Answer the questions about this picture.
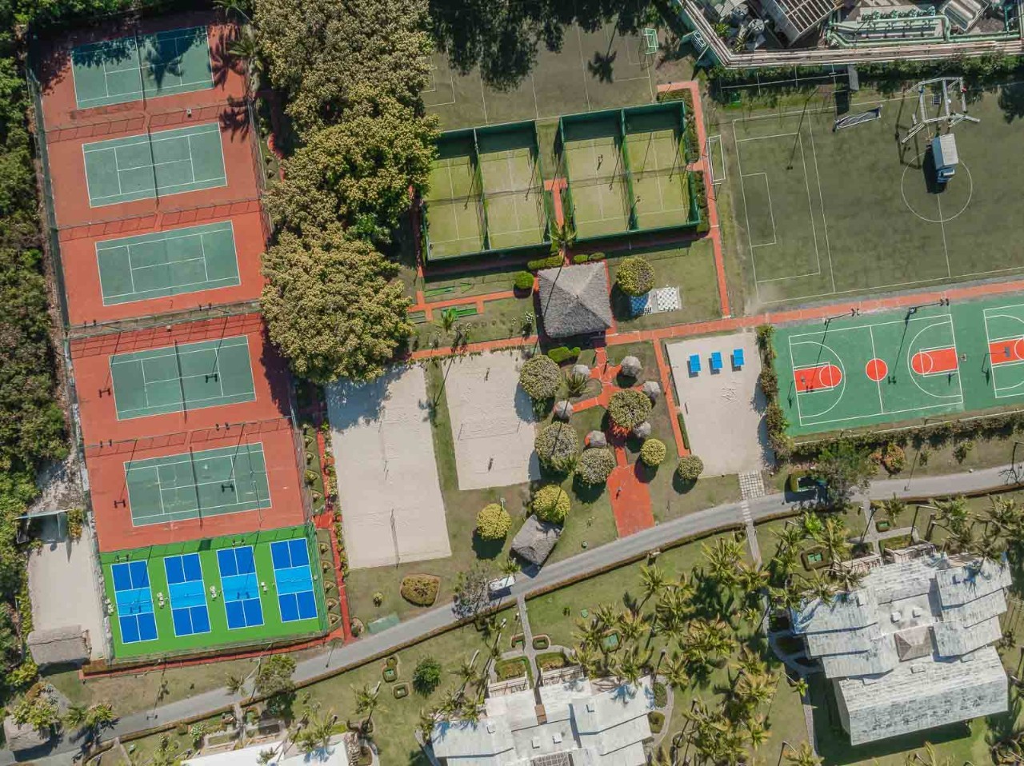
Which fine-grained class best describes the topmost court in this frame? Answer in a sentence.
The topmost court is a tennis court.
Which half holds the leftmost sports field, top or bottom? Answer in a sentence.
Seen from above, the leftmost sports field lies in the top half of the view.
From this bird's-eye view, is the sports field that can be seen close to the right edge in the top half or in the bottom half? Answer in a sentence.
It is in the top half that the sports field that can be seen close to the right edge appears.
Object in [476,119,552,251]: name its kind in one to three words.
sports court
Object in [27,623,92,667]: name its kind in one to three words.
shed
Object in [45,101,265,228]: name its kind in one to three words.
tennis court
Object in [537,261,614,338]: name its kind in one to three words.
building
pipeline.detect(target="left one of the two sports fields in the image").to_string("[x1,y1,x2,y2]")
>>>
[404,0,694,137]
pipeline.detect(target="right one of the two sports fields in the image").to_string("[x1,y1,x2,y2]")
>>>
[720,68,1024,314]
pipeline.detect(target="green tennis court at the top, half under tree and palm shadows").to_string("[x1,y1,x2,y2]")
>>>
[30,12,253,131]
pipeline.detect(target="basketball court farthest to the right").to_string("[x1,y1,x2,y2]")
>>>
[967,296,1024,410]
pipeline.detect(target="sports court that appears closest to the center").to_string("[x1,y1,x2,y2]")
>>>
[443,350,541,490]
